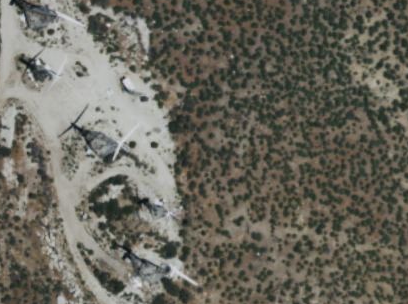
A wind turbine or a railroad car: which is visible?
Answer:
wind turbine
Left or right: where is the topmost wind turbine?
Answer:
left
